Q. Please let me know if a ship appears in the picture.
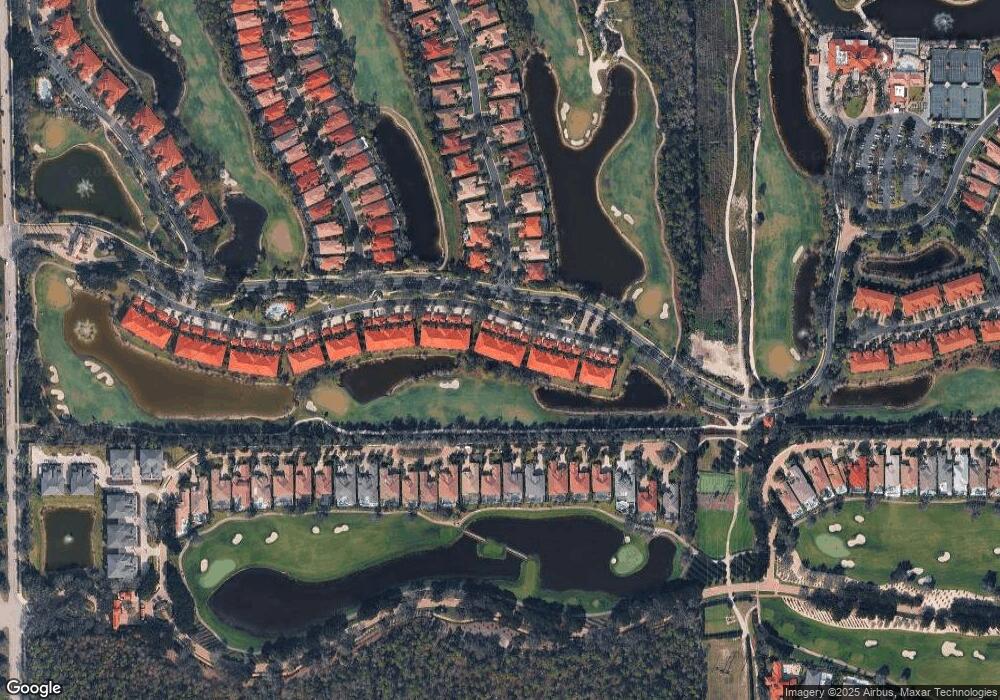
No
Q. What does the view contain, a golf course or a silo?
golf course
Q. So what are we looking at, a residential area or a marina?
residential area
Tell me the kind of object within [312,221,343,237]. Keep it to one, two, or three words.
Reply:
house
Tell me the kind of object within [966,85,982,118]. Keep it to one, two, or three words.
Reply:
tennis court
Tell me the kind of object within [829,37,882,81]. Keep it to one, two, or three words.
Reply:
building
